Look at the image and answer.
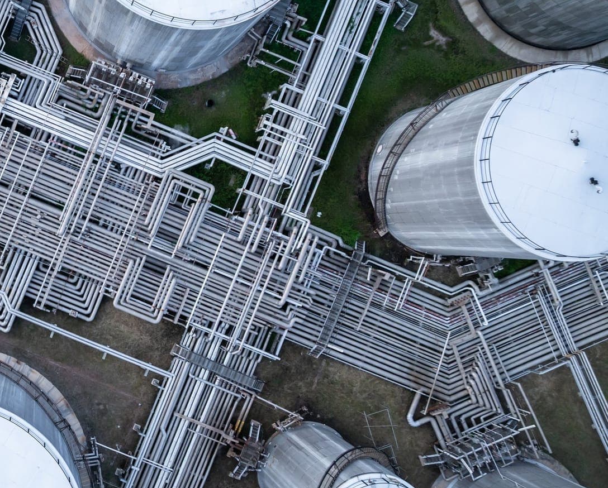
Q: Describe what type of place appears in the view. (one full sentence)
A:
The picture captures an industrial area.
